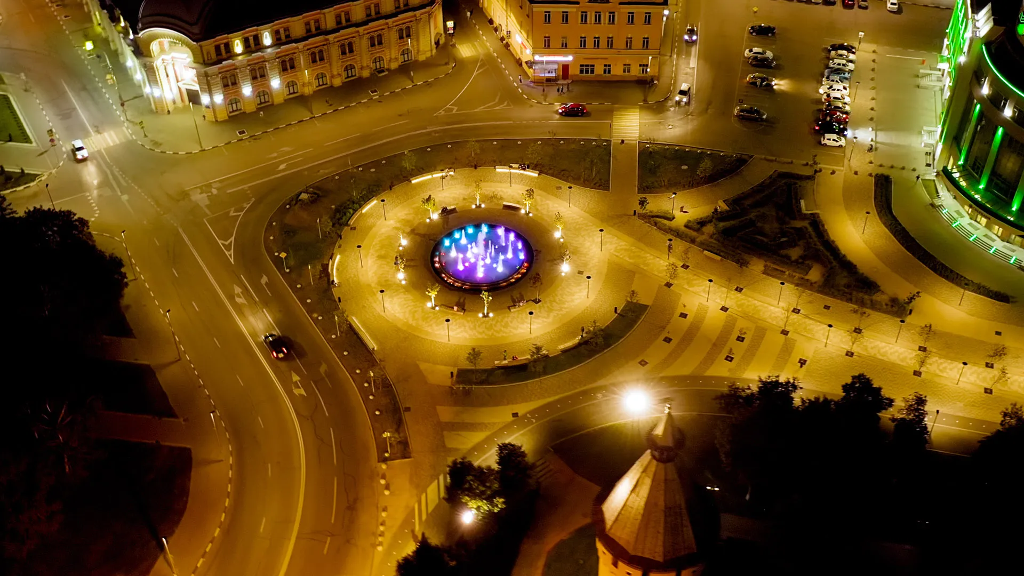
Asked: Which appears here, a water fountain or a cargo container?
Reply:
water fountain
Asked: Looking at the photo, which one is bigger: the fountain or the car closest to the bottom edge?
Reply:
the fountain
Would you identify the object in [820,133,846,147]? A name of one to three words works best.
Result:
car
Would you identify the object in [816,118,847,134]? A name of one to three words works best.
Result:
car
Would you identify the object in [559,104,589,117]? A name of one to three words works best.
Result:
vehicle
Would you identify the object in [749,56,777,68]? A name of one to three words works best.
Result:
vehicle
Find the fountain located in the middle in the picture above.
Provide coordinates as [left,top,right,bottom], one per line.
[429,219,534,292]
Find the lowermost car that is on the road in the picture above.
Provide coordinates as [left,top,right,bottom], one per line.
[263,331,288,359]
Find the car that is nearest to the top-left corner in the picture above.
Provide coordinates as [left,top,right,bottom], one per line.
[69,136,88,161]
